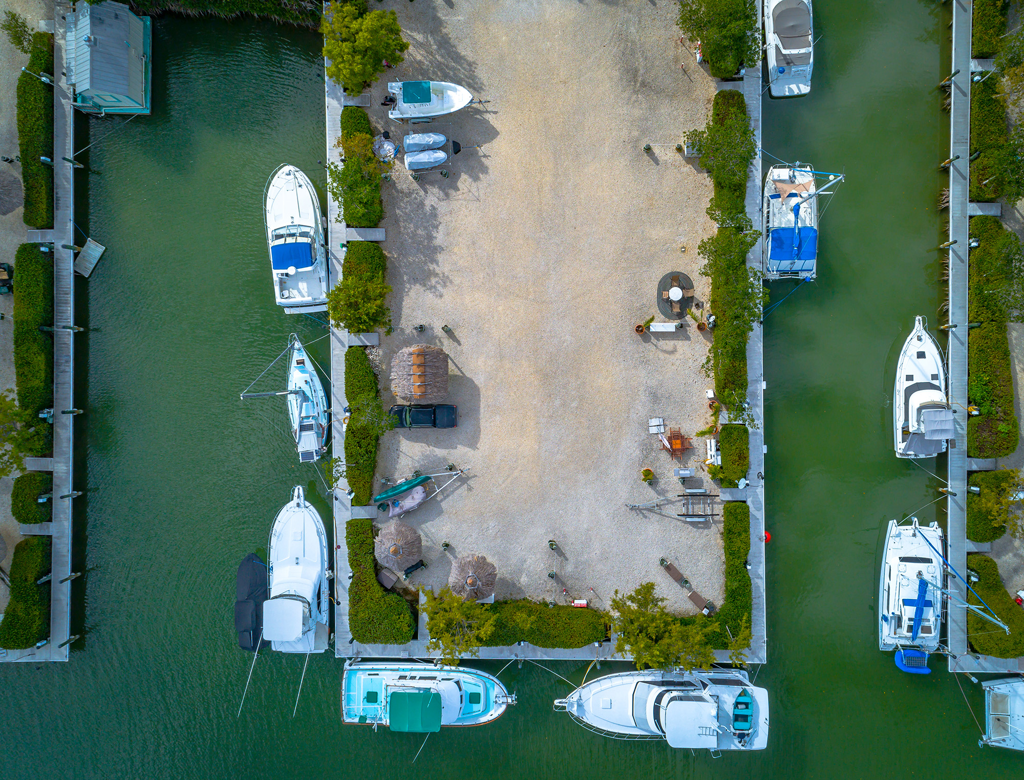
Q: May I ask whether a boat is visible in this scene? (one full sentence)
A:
Yes, a boat appears in the view.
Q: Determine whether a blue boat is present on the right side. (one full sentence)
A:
Yes, looking on the right side, one can make out a blue boat.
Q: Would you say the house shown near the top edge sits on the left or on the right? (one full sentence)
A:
You can find the house shown near the top edge on the left side of the picture.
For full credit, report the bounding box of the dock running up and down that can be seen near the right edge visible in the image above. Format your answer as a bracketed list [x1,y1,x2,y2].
[946,0,1024,673]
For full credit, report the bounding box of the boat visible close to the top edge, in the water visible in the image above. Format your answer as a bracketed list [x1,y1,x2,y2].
[762,0,822,97]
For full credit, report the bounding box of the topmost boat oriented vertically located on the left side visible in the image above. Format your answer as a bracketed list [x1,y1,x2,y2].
[263,163,330,314]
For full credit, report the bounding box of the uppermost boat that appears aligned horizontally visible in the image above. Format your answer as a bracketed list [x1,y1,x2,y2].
[380,81,473,120]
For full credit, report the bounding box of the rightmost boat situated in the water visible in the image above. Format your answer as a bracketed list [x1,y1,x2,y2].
[979,674,1024,751]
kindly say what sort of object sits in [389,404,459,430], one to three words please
truck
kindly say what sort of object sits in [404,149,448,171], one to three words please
boat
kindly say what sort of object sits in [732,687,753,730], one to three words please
boat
